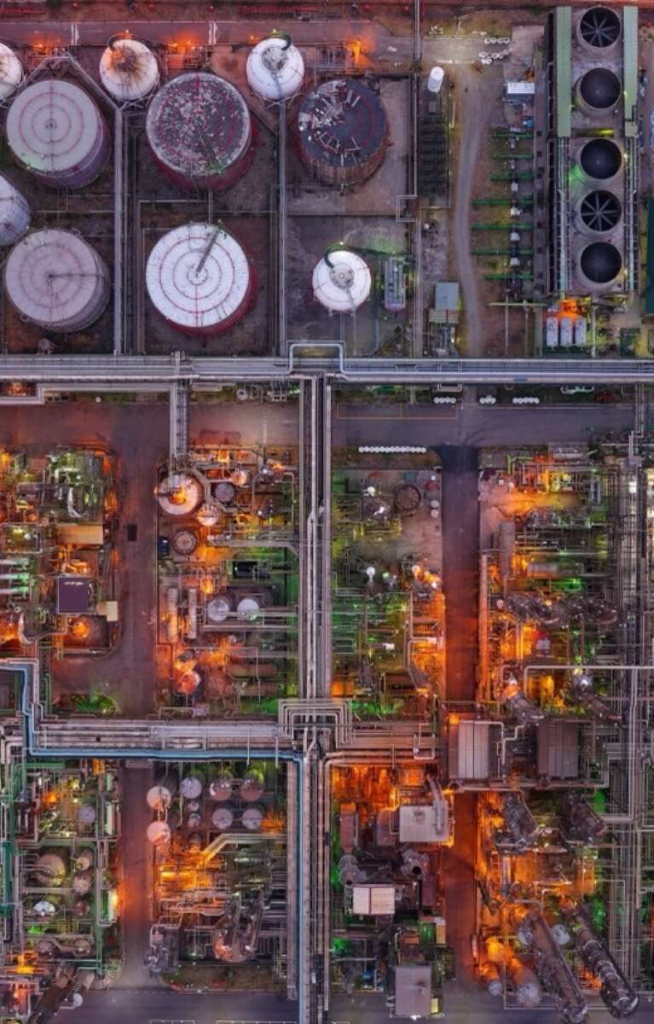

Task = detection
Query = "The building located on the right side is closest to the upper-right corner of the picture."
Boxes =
[506,82,535,97]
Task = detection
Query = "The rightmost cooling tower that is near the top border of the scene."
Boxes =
[544,5,640,305]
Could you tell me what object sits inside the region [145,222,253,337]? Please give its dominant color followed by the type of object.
white storage tank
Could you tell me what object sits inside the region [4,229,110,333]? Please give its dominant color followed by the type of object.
gray storage tank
